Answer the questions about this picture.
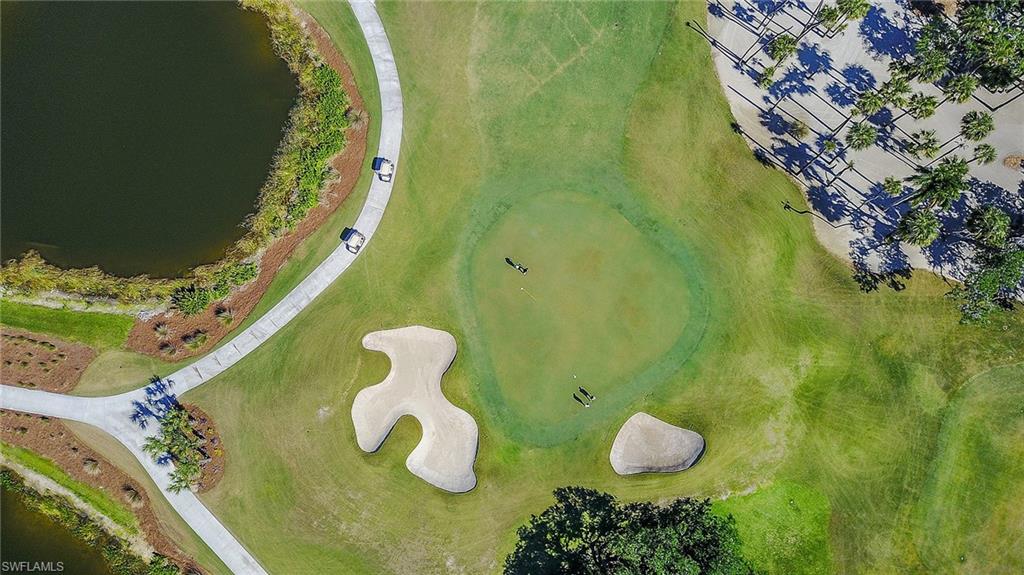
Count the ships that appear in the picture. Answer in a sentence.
There are no ships in the image.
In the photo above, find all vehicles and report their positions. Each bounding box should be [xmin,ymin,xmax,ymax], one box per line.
[377,158,393,183]
[343,231,365,256]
